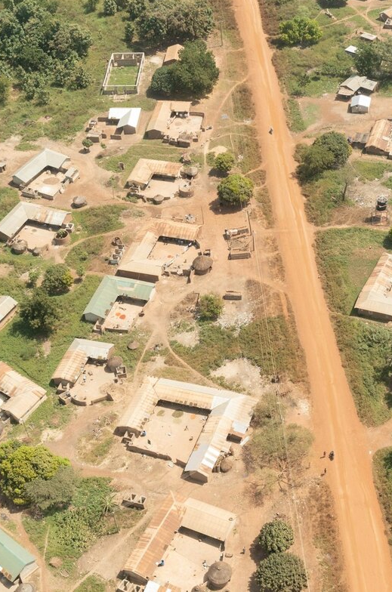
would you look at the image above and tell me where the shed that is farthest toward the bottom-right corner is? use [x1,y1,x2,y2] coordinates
[208,564,231,590]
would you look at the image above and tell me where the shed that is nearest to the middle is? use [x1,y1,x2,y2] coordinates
[192,258,214,278]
